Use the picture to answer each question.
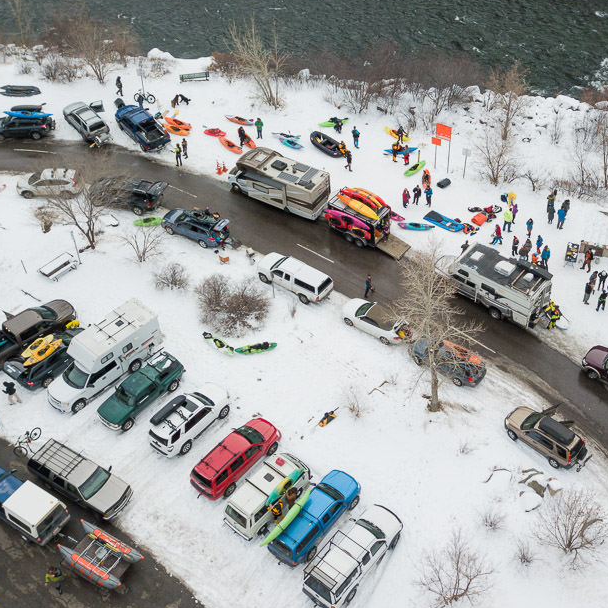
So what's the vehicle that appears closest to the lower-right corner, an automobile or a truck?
automobile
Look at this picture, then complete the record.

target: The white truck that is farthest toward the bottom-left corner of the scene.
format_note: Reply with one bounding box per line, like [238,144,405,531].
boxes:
[0,465,73,553]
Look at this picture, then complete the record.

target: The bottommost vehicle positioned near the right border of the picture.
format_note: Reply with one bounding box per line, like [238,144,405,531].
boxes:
[499,403,602,477]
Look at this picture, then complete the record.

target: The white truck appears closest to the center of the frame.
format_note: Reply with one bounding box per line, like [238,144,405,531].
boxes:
[254,252,336,308]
